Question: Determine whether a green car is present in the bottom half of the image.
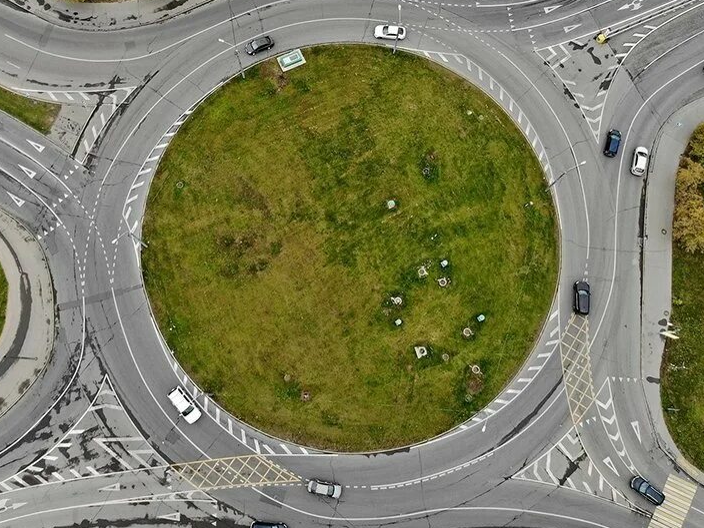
No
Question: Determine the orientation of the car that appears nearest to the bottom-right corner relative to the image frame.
at an angle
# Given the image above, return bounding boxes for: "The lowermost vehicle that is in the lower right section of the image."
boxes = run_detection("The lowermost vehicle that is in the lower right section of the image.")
[629,475,667,508]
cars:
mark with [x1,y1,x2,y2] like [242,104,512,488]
[630,145,649,177]
[168,386,198,425]
[374,24,406,41]
[602,129,622,156]
[573,281,591,314]
[251,520,287,528]
[629,475,667,508]
[308,479,342,500]
[245,36,274,57]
